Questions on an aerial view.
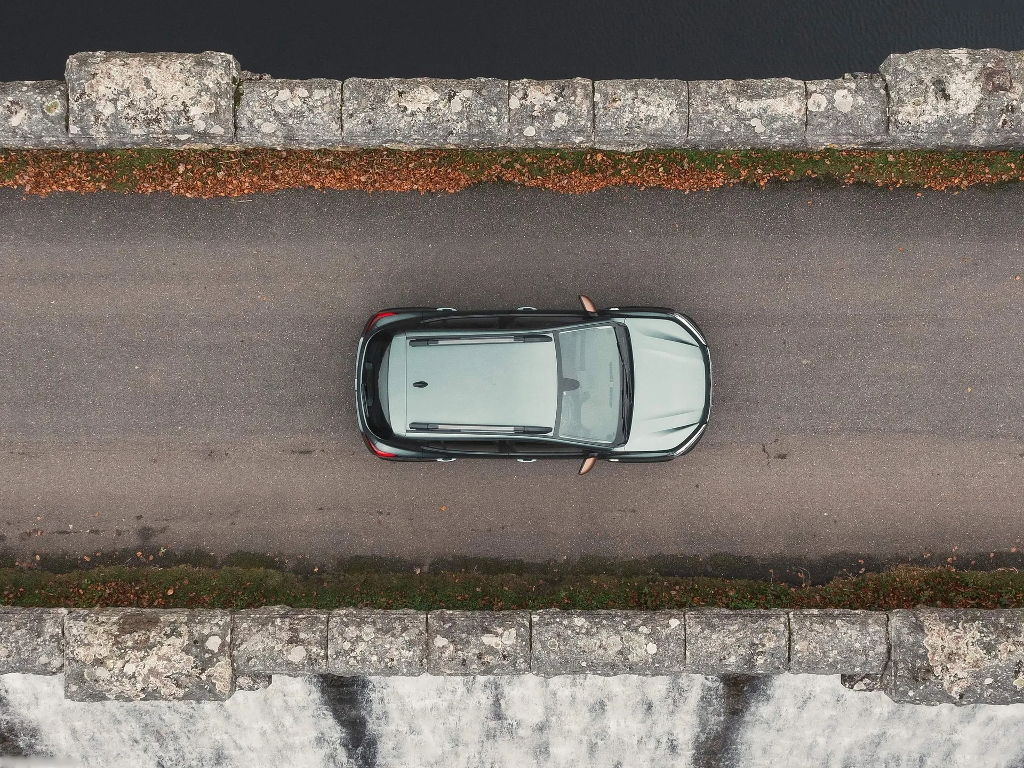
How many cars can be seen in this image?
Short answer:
one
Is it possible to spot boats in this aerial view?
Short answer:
No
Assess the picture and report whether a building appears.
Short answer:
No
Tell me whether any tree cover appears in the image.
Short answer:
No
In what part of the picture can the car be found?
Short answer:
center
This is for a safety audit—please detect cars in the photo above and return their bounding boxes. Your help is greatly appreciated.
[355,294,714,474]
